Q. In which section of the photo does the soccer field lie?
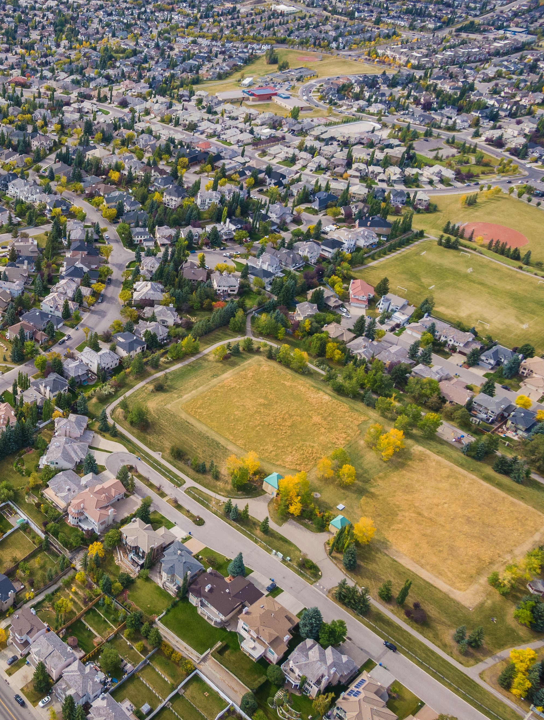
right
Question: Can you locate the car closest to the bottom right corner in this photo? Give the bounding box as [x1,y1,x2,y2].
[381,637,399,652]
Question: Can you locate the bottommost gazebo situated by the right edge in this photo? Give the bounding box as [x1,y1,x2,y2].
[524,577,544,599]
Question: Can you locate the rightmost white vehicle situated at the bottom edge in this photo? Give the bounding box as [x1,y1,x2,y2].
[37,694,53,708]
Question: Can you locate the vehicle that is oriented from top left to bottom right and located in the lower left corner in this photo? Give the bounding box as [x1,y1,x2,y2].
[12,691,26,707]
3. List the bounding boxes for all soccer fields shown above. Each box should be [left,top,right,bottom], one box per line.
[352,239,544,354]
